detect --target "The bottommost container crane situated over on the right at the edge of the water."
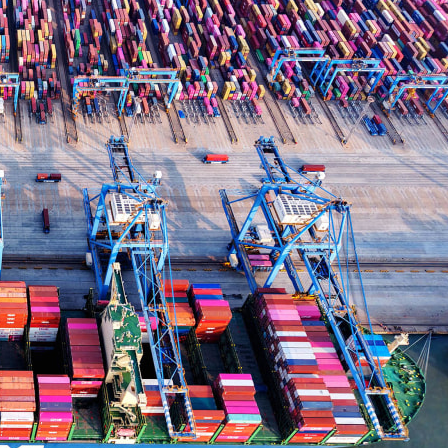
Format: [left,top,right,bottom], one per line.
[215,136,405,446]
